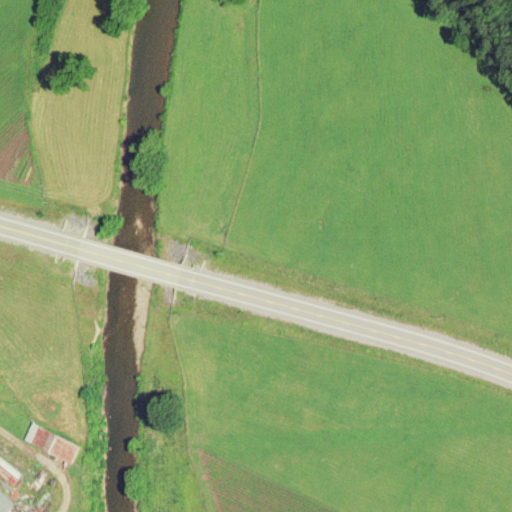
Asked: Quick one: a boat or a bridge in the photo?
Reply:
bridge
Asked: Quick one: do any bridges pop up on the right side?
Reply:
No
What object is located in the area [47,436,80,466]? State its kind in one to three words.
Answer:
shed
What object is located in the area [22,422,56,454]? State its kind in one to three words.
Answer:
barn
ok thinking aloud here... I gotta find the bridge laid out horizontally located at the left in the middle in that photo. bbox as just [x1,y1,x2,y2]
[78,238,179,287]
